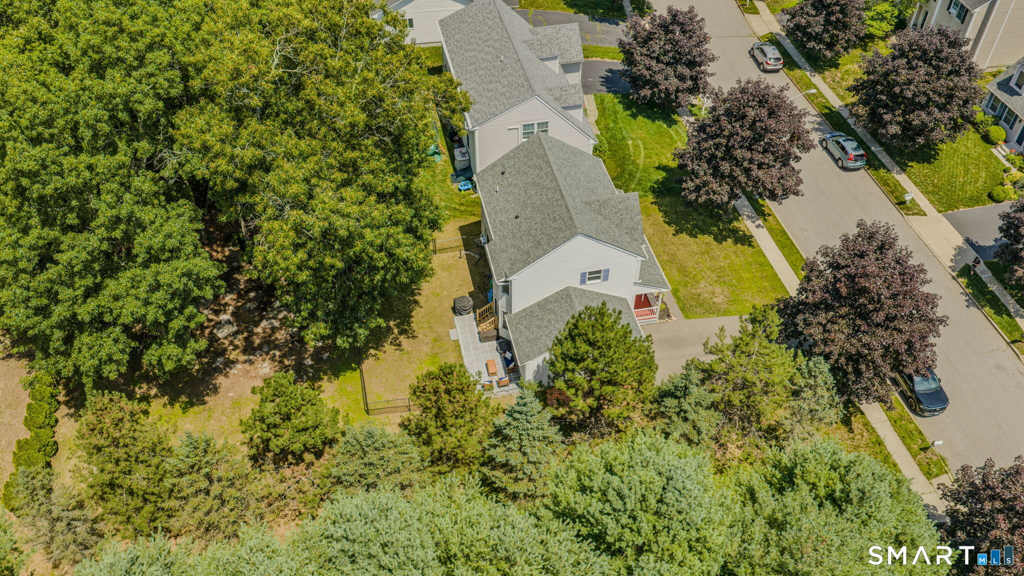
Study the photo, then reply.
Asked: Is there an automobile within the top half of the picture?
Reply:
Yes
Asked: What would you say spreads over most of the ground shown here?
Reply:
trees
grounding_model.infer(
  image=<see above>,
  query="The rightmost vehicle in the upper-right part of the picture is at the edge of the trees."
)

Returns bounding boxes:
[818,125,864,164]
